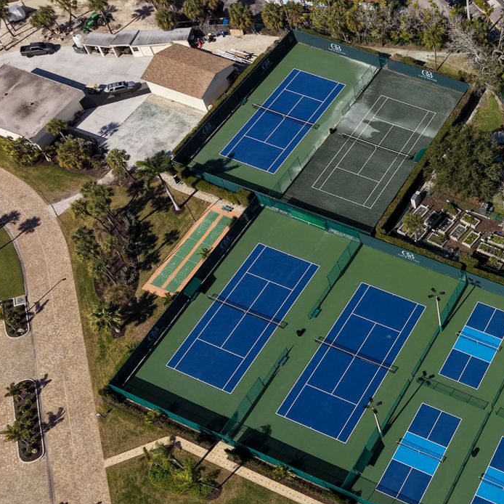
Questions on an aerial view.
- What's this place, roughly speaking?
sports ground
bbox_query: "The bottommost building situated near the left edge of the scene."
[0,64,89,150]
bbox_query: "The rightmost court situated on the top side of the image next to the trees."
[285,66,464,234]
